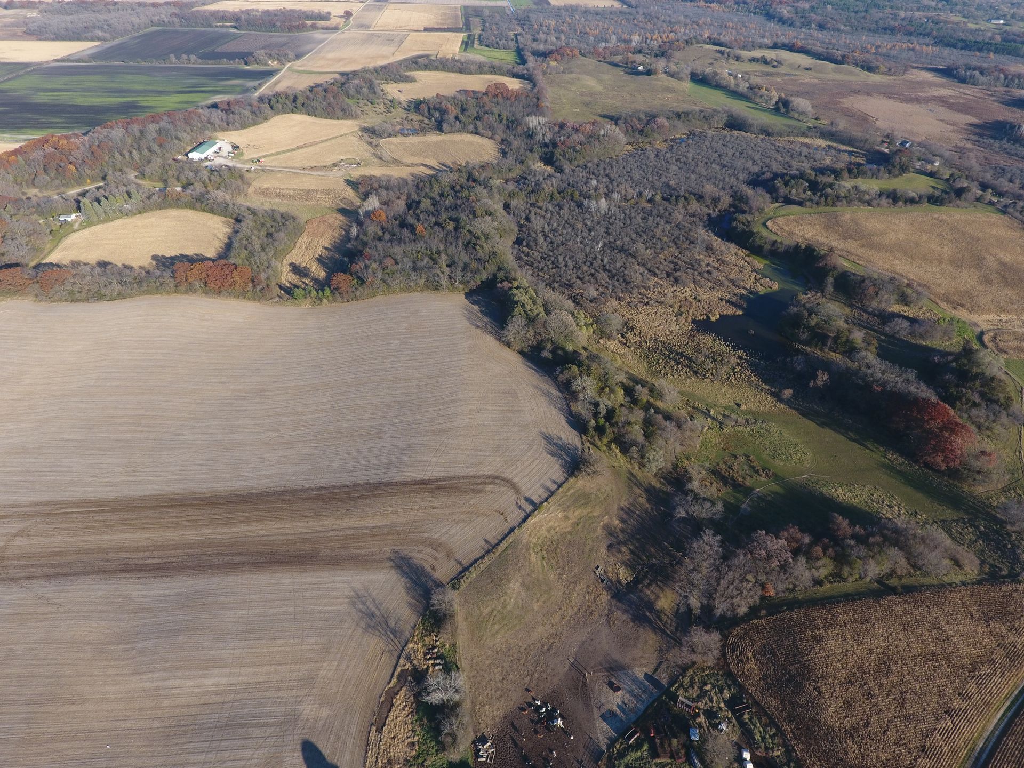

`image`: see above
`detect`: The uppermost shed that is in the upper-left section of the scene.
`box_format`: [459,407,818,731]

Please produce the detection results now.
[186,138,220,159]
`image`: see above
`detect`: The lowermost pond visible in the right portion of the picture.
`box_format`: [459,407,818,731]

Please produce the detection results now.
[694,212,811,356]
